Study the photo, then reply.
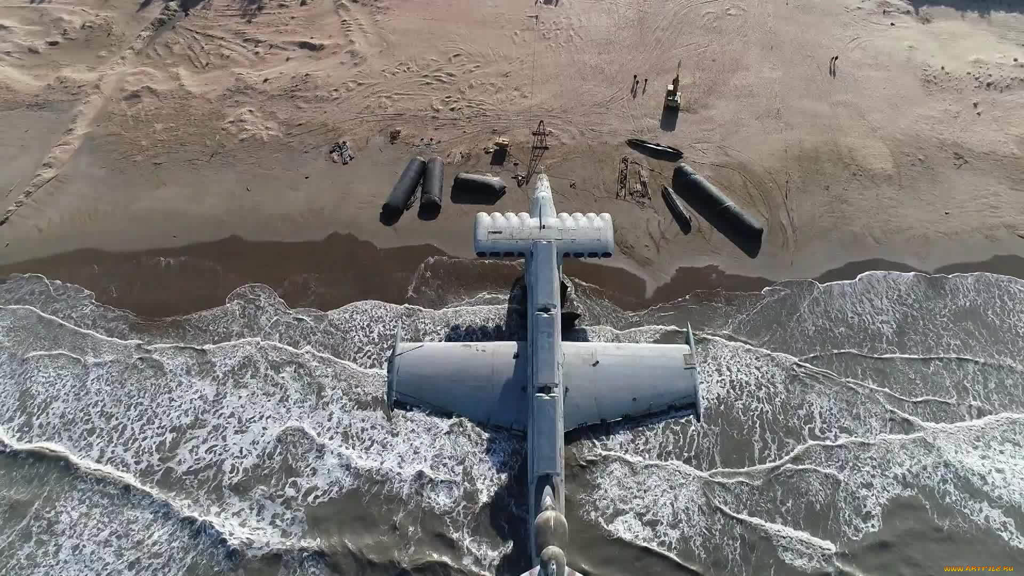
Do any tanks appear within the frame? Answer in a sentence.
No, the frame has no tank in it.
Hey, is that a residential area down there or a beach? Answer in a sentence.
This image shows a beach.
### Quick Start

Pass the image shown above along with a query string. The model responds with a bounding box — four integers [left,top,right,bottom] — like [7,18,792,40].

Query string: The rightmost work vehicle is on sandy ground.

[664,58,684,111]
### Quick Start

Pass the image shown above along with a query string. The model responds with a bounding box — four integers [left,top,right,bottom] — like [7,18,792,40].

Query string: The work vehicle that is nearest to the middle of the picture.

[493,132,509,154]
